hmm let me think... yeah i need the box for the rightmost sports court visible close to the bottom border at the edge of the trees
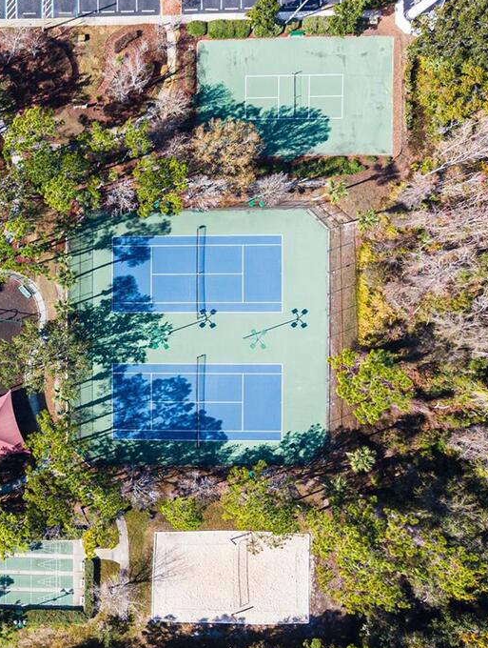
[151,530,312,625]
